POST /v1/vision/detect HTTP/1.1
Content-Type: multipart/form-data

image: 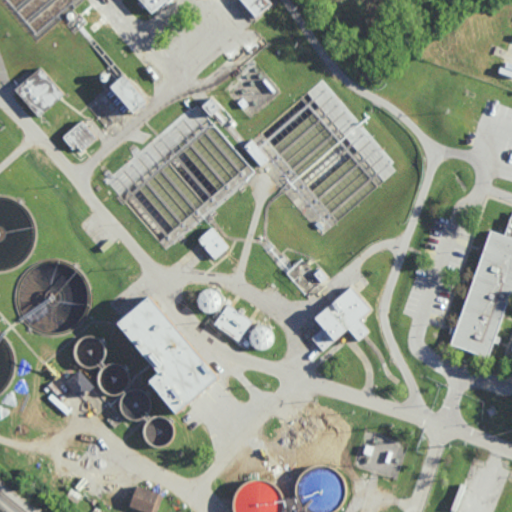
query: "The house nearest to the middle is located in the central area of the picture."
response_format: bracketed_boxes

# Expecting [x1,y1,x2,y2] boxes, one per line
[198,228,230,260]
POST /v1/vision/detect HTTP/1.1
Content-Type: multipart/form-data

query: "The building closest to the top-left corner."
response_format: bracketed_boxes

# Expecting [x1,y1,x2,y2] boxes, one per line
[15,68,64,118]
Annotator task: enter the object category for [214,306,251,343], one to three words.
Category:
house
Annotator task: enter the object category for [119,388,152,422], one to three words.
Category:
storage tank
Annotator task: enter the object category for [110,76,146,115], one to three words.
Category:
building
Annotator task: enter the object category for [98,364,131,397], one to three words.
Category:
storage tank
